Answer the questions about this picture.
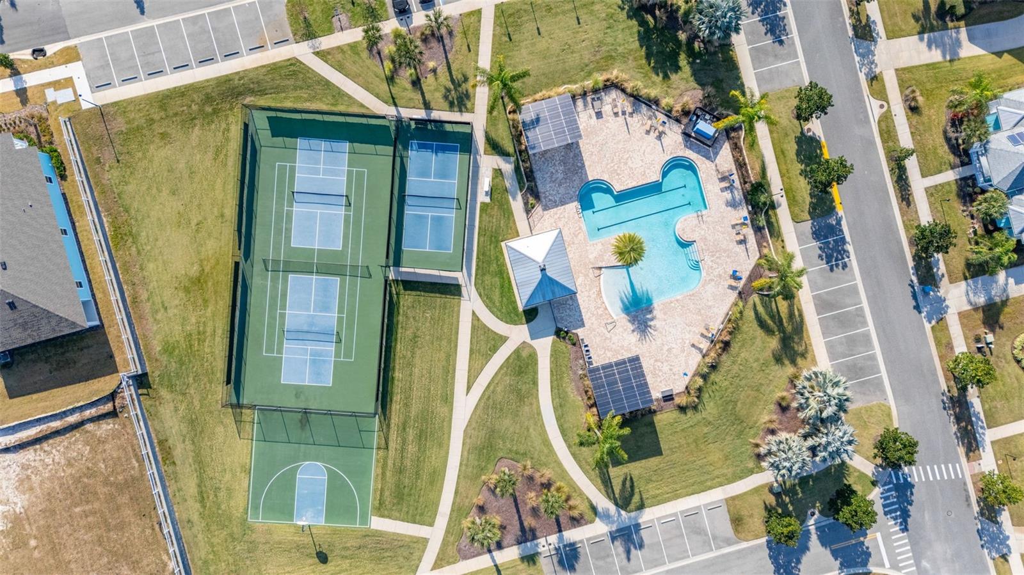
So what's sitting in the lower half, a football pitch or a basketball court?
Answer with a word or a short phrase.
basketball court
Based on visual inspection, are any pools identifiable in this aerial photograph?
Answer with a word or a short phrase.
Yes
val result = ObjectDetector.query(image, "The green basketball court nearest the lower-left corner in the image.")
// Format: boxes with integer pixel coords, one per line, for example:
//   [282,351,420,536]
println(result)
[247,408,378,529]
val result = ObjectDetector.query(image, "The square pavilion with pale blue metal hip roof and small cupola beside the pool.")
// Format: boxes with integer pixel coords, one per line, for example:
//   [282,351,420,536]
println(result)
[506,228,577,308]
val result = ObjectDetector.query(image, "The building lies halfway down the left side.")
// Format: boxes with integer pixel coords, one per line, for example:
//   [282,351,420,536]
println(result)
[0,131,97,351]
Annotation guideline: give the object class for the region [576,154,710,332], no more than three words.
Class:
swimming pool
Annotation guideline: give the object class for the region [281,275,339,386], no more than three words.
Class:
sports court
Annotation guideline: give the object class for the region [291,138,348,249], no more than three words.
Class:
sports court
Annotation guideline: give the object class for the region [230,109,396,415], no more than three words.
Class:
tennis court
